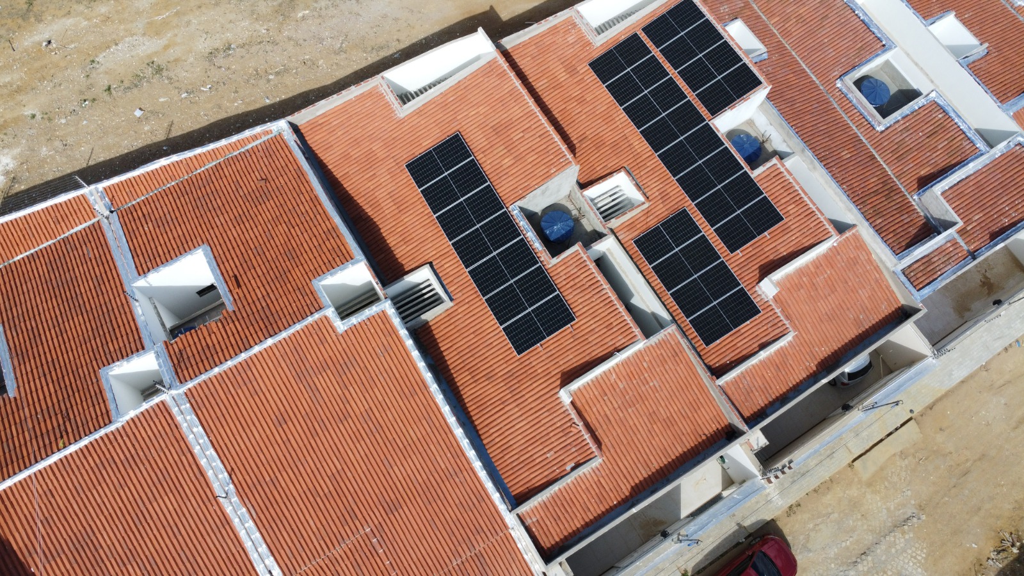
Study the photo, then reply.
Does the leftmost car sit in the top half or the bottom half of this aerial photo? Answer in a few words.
bottom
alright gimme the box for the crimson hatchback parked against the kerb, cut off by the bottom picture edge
[701,532,803,576]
